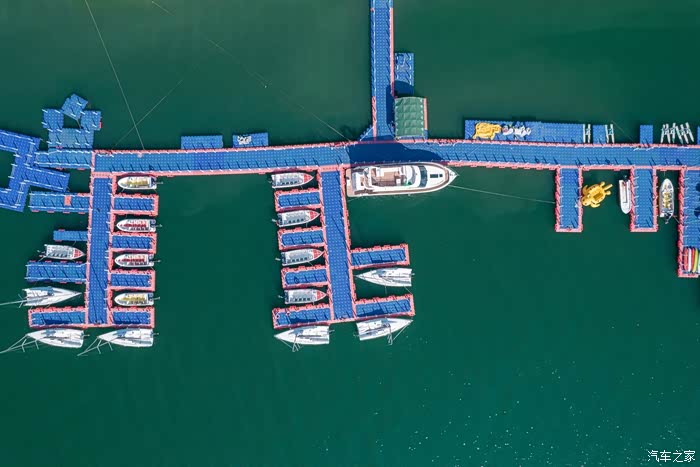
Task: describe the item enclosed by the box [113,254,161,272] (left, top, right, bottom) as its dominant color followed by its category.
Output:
white boat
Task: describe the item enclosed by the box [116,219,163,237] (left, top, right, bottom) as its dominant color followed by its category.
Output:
white boat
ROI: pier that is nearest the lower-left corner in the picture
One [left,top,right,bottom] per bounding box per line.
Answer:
[26,306,87,327]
